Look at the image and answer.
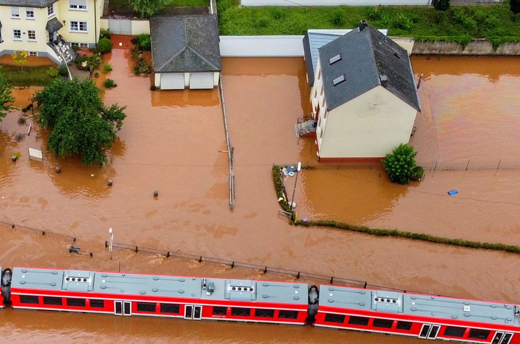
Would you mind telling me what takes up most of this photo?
water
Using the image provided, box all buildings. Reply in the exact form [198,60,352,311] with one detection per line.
[285,15,424,160]
[240,0,434,10]
[0,0,105,66]
[151,15,222,90]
